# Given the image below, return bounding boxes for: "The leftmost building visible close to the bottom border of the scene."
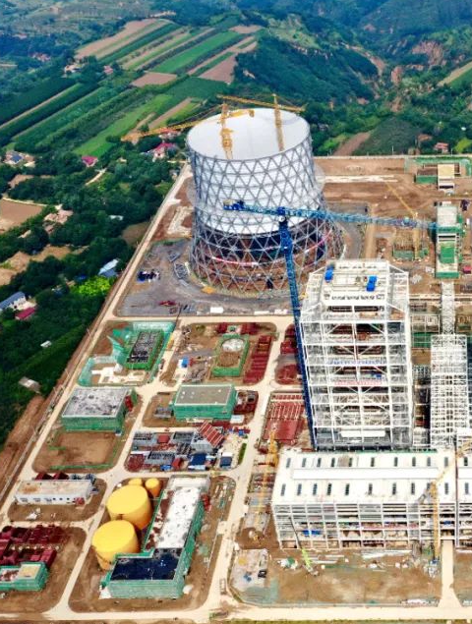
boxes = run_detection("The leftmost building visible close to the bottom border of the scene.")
[0,567,25,595]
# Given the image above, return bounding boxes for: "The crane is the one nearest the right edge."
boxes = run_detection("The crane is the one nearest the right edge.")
[417,433,472,568]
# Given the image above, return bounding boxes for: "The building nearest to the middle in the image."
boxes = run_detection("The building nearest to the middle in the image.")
[212,336,252,376]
